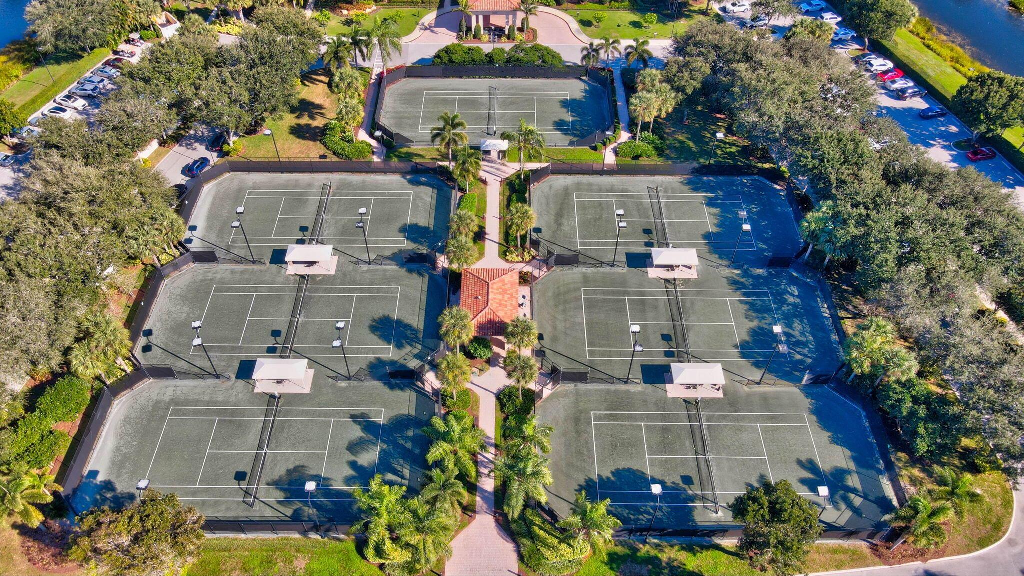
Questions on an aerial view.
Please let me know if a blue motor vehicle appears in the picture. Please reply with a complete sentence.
Yes, there's a blue motor vehicle here.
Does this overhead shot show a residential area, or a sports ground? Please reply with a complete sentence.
This looks like a sports ground.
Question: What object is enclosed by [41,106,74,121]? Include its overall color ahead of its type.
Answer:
white car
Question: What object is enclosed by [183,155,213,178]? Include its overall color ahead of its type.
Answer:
blue car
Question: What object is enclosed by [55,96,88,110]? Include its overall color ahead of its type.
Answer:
white car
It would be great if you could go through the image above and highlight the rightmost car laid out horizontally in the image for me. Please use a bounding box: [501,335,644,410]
[964,147,997,163]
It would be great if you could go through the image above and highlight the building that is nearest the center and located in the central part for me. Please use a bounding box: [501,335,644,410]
[459,268,519,350]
